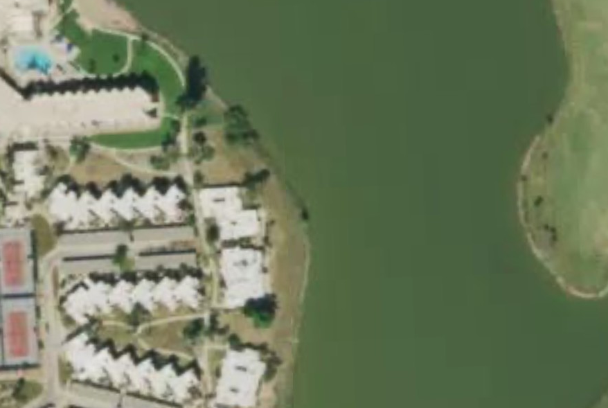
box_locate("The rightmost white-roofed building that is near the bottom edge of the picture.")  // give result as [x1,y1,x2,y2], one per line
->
[216,347,265,404]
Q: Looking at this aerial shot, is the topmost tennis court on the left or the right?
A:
left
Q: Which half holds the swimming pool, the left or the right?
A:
left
